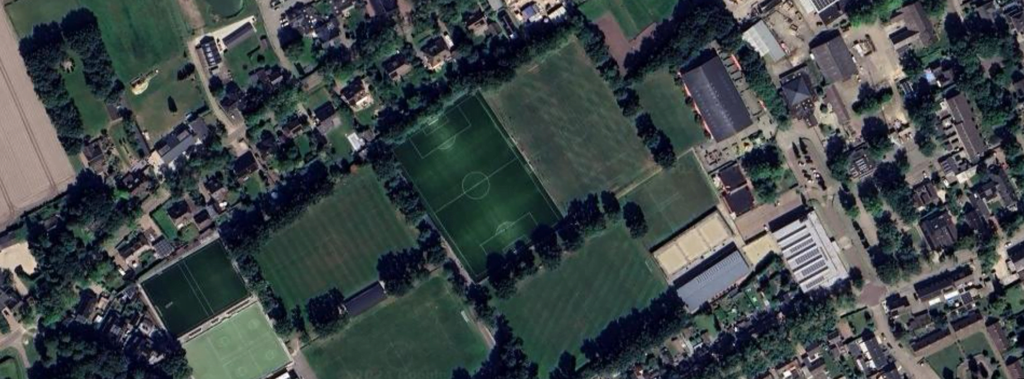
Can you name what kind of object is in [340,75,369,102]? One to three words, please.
house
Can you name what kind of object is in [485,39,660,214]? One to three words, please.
soccer field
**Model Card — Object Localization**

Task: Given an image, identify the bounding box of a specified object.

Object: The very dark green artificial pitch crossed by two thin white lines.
[143,238,249,337]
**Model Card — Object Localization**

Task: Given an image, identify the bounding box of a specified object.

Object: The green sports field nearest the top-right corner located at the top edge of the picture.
[573,0,679,41]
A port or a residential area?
residential area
